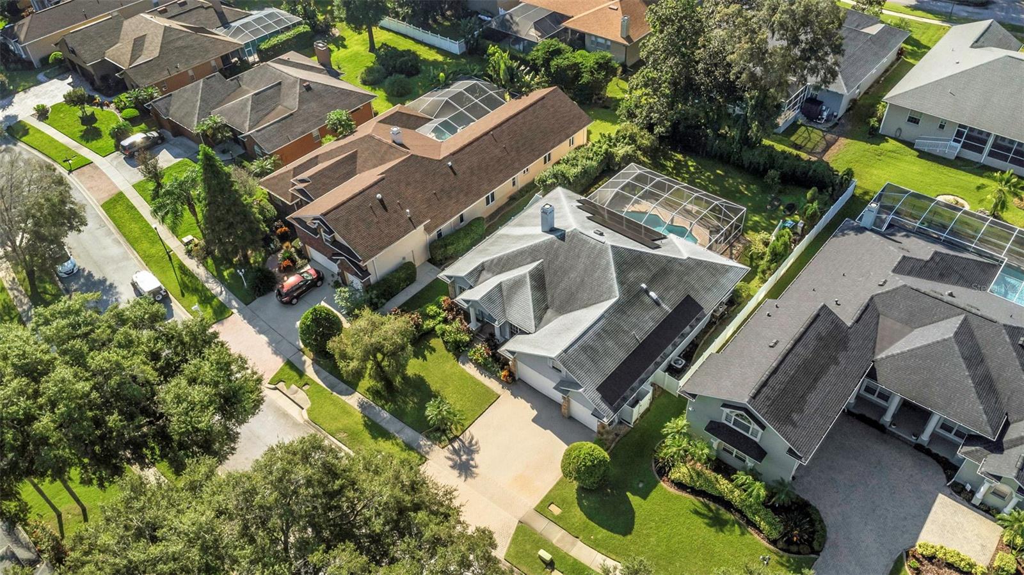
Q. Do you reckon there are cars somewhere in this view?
Yes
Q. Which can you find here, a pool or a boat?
pool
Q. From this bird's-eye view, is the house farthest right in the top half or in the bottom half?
top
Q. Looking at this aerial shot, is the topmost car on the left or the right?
left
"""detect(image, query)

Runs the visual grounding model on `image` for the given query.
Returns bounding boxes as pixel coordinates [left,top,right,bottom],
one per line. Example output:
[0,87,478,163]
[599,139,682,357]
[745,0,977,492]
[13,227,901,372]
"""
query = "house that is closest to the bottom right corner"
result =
[678,193,1024,520]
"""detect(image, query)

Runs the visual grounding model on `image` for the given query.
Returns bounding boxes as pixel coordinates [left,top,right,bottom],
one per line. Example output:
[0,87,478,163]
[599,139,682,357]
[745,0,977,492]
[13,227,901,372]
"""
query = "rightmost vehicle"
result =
[270,265,320,297]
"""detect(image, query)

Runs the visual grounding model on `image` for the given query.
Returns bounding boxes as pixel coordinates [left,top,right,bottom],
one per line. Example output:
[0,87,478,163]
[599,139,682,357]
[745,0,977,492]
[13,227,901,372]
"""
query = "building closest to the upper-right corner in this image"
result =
[882,18,1024,172]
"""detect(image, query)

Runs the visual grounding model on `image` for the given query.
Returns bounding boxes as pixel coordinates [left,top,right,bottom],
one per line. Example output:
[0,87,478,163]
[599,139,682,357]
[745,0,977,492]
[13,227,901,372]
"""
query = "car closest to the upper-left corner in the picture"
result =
[115,129,165,155]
